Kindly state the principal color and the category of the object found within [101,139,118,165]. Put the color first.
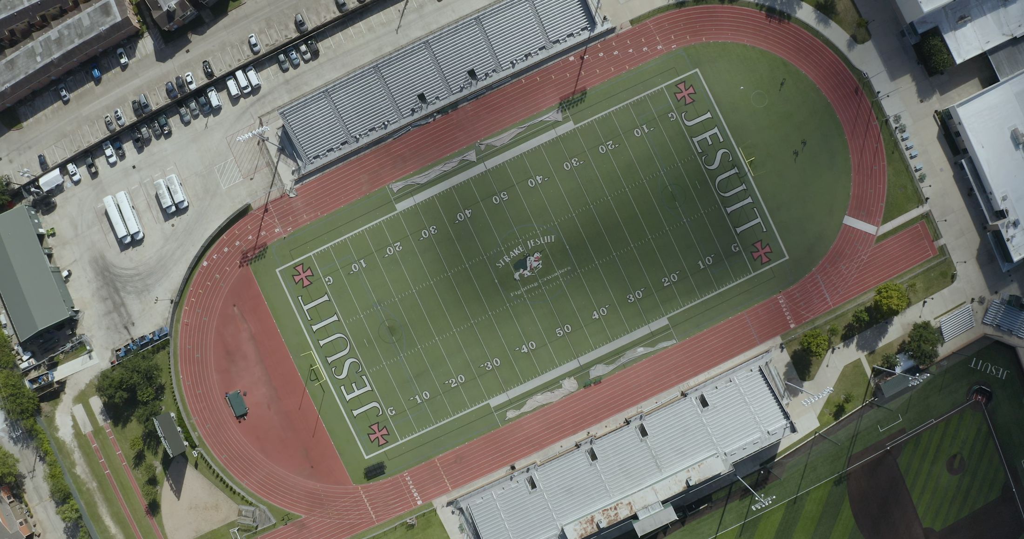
white vehicle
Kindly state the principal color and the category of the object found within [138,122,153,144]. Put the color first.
gray car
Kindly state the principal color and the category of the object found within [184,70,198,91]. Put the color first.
white car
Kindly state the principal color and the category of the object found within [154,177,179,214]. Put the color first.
white bus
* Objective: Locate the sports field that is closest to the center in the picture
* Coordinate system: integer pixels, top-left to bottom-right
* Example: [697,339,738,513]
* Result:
[248,41,852,485]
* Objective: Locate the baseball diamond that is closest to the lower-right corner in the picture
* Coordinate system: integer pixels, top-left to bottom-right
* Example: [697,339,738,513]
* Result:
[584,336,1024,539]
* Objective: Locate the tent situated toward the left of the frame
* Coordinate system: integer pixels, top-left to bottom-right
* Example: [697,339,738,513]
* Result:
[39,168,70,192]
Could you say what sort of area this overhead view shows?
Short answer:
sports ground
